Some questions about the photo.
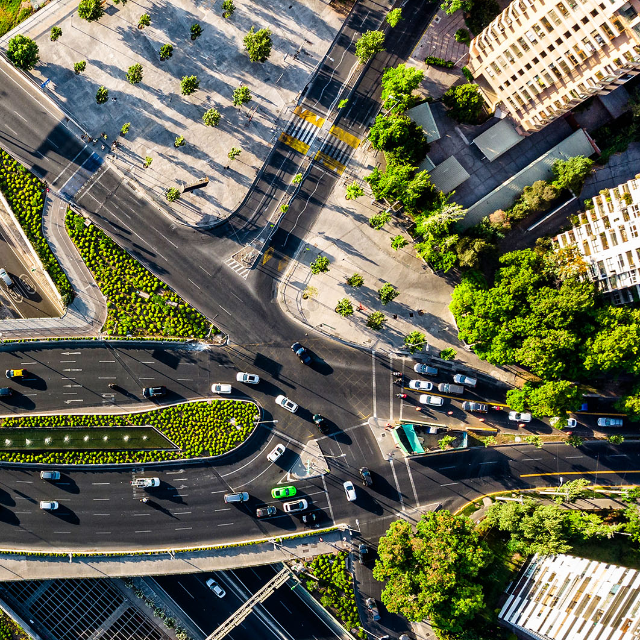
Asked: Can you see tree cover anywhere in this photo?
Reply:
Yes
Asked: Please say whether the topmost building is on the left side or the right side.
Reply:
right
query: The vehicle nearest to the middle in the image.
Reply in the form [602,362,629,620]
[291,340,314,366]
